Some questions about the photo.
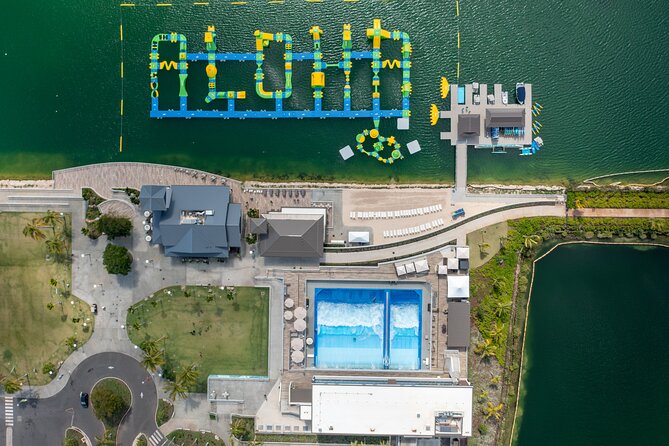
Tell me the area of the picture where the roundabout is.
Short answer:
bottom left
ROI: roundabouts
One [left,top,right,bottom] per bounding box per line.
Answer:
[63,353,157,446]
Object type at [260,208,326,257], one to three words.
building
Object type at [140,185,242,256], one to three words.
building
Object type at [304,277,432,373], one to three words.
swimming pool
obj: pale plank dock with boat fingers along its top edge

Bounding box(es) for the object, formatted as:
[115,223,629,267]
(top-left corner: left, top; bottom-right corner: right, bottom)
[438,82,535,153]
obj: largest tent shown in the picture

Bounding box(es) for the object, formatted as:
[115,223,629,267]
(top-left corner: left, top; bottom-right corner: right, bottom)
[446,275,469,297]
